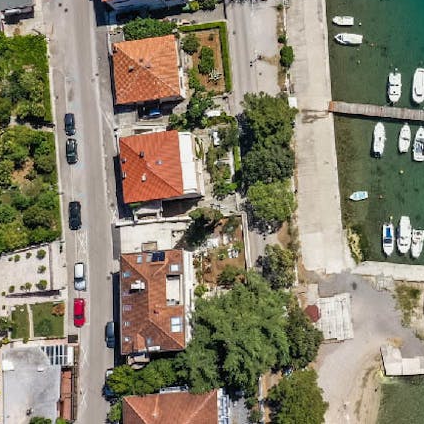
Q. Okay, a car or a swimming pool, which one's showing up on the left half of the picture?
car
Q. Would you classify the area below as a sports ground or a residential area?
residential area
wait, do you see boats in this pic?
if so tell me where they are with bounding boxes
[412,65,424,106]
[350,190,369,200]
[387,69,402,107]
[399,121,410,156]
[398,213,412,262]
[381,220,395,263]
[413,124,424,165]
[412,226,424,264]
[371,120,385,160]
[332,16,357,25]
[334,33,366,44]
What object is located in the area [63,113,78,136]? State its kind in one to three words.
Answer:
car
